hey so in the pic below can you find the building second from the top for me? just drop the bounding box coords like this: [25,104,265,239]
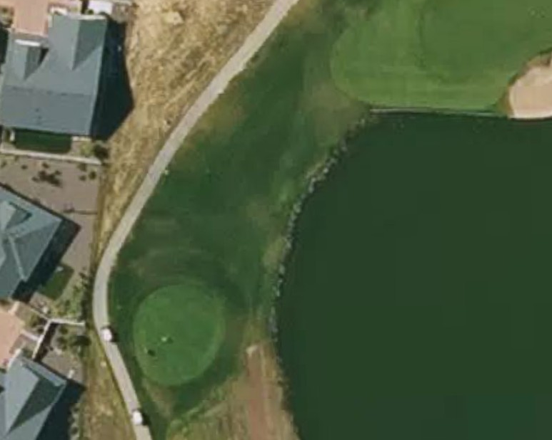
[0,185,64,299]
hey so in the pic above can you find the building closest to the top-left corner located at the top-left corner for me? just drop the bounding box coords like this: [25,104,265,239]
[0,16,108,137]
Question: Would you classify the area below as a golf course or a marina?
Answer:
golf course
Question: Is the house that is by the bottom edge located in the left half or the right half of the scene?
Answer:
left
